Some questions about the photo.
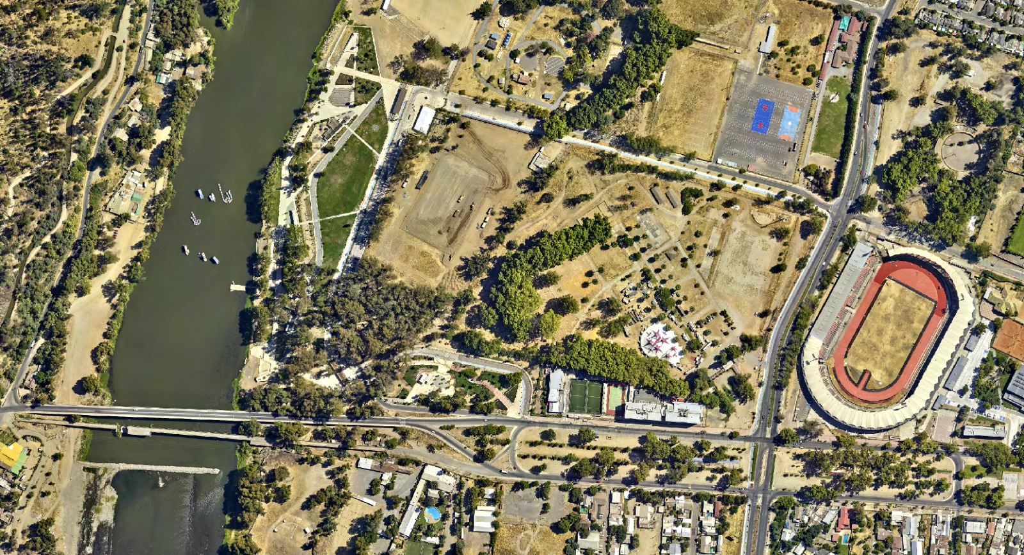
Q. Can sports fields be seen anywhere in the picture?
Yes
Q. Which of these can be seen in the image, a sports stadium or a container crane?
sports stadium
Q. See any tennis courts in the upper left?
No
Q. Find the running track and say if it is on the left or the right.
right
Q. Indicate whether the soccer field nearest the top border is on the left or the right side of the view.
right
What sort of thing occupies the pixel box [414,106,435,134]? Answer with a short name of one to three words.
building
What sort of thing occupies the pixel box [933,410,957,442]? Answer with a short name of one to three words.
sports court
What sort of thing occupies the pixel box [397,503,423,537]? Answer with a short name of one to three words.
house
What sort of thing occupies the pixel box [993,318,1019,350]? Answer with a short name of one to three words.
tennis court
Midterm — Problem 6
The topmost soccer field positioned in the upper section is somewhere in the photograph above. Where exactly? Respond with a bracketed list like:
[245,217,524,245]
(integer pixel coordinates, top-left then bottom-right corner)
[640,49,737,161]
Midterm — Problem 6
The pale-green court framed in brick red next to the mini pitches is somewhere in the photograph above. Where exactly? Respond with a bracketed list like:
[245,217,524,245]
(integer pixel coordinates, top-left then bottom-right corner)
[606,383,625,414]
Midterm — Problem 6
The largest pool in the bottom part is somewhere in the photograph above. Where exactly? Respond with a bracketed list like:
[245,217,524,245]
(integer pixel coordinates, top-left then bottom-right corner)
[424,506,441,523]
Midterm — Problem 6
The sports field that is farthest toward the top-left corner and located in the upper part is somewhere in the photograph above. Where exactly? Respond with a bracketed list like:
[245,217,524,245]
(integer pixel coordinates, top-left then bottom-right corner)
[406,157,490,253]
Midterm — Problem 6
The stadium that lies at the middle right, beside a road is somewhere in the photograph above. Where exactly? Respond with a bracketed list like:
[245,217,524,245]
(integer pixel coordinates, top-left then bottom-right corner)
[802,242,979,431]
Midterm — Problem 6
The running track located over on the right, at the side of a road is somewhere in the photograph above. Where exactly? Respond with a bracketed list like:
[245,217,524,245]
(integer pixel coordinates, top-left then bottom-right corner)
[830,259,948,407]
